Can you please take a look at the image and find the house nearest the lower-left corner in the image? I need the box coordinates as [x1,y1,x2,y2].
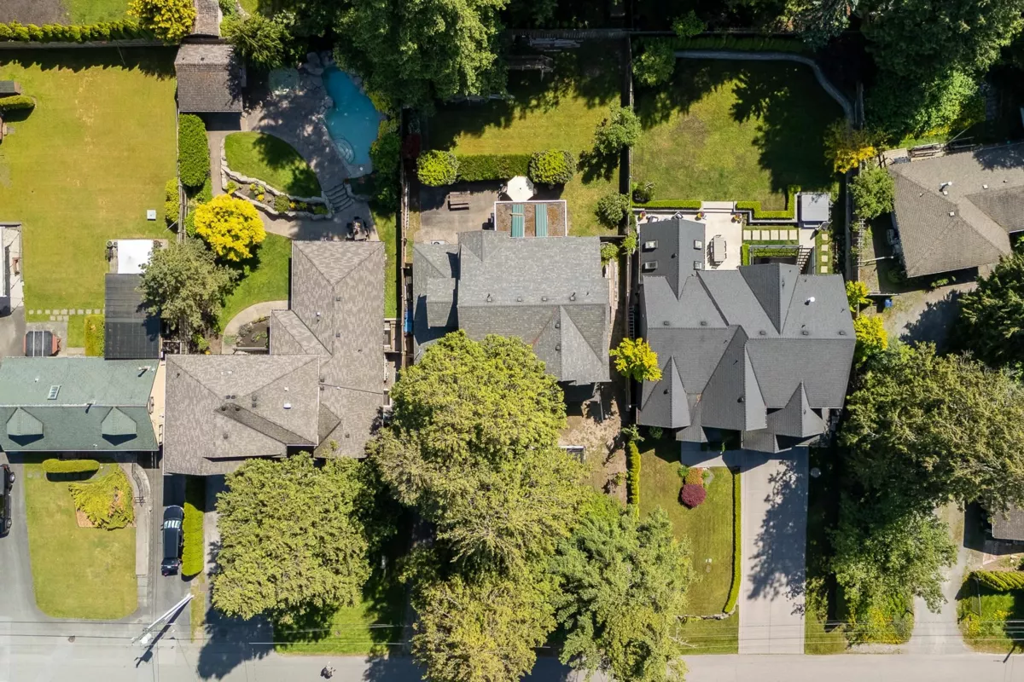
[0,357,164,452]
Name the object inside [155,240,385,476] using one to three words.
house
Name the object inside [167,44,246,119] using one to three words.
shed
